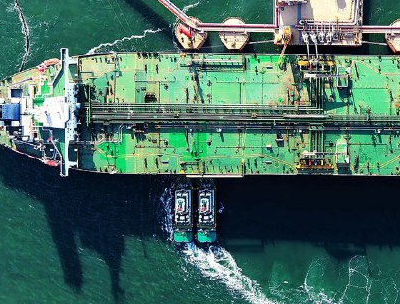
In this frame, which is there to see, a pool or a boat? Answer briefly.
boat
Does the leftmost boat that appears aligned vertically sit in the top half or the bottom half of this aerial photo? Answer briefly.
bottom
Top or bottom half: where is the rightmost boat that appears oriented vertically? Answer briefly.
bottom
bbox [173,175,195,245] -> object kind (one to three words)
boat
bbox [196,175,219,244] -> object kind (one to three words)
boat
